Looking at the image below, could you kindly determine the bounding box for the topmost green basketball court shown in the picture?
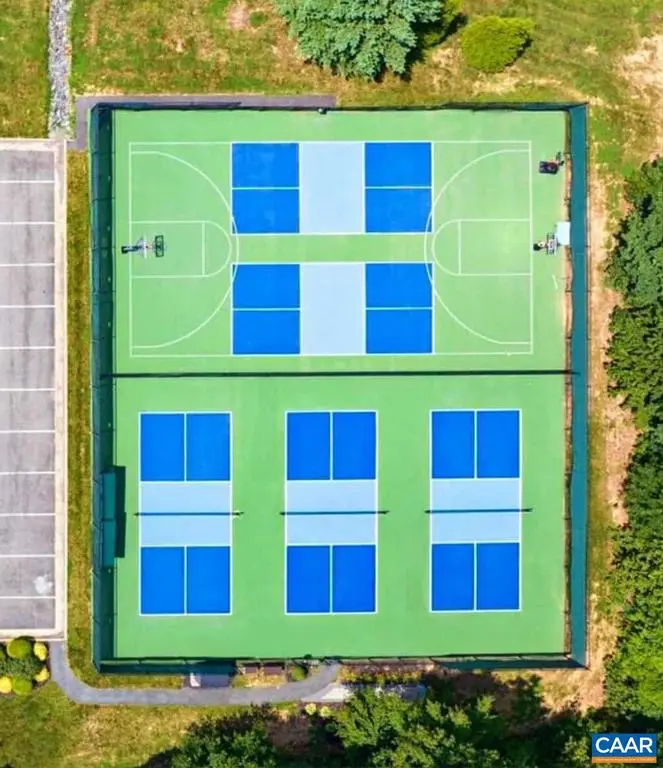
[104,110,566,374]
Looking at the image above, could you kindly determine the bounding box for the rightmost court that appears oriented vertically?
[430,409,522,612]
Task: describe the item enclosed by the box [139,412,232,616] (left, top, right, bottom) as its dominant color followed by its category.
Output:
blue sports court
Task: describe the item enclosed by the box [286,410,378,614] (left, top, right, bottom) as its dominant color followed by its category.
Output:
blue sports court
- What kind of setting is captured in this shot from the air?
sports ground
